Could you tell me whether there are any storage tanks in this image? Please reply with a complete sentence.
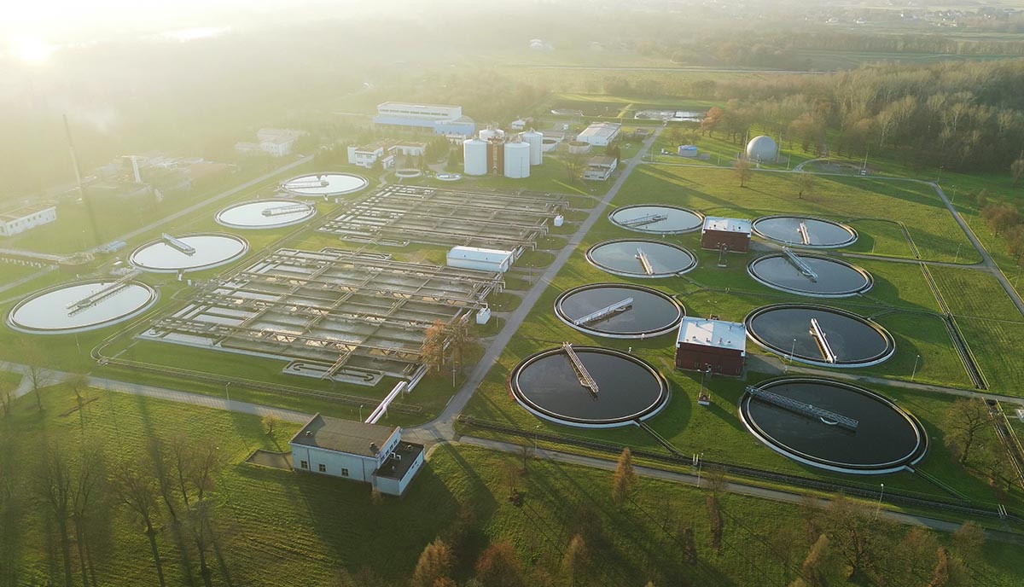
Yes, a storage tank appears in the view.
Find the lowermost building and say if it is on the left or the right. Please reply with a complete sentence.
You can find the lowermost building on the left side of the picture.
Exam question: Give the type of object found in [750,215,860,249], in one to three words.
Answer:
storage tank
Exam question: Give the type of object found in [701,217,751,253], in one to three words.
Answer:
house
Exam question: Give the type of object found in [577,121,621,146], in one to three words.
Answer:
building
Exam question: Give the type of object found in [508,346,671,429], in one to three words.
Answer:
storage tank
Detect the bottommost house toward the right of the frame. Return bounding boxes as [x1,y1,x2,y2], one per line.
[675,317,746,378]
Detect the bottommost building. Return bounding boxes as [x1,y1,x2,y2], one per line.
[286,409,425,496]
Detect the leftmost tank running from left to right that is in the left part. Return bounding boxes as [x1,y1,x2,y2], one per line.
[7,278,162,334]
